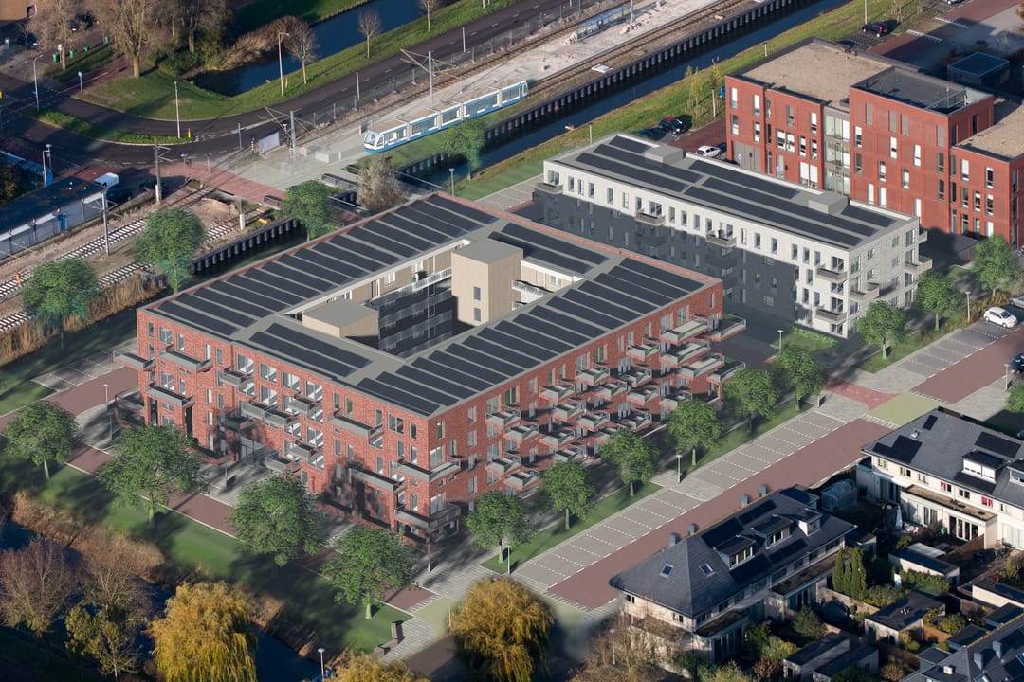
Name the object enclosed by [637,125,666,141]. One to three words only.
car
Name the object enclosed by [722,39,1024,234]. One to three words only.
building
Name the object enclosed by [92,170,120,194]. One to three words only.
vehicle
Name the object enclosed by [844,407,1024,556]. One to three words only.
house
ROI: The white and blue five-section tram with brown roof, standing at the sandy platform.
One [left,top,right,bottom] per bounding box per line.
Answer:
[359,77,519,154]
